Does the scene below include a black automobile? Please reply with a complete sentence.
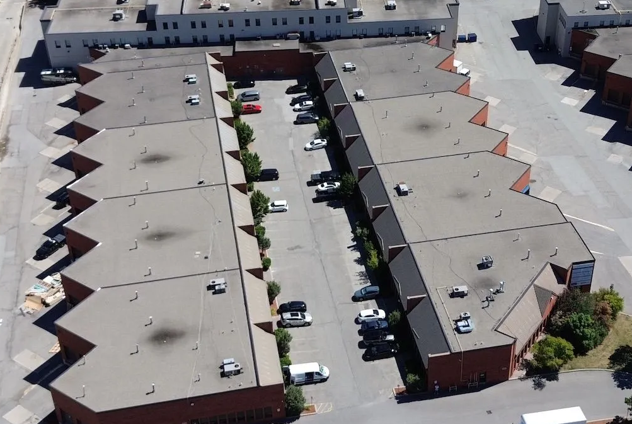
Yes, the frame does contain a black automobile.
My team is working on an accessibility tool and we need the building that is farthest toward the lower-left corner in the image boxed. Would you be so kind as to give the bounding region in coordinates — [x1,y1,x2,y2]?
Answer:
[51,45,286,424]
